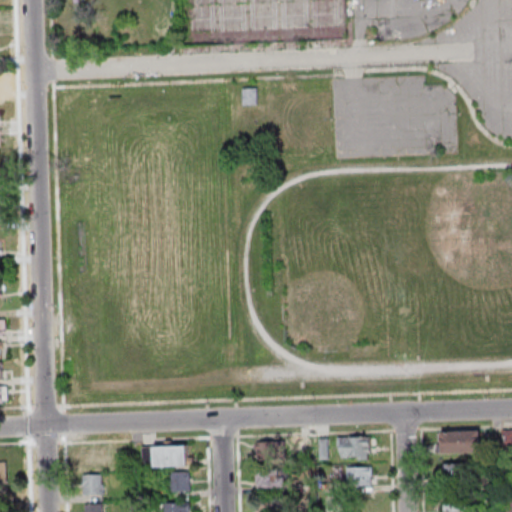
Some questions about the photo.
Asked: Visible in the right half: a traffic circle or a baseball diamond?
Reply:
baseball diamond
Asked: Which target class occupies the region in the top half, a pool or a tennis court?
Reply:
tennis court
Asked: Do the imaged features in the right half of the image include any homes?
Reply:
Yes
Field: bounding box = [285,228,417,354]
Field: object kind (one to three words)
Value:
baseball field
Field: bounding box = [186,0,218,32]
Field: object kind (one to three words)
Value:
tennis court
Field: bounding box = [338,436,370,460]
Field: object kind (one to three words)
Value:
house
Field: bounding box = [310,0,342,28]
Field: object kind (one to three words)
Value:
tennis court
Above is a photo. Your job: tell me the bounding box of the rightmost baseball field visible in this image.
[422,172,512,344]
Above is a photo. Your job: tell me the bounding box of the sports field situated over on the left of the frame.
[66,90,233,374]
